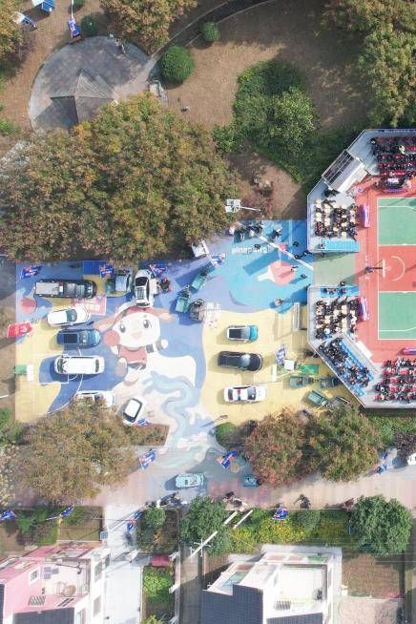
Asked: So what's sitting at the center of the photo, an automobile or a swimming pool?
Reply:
automobile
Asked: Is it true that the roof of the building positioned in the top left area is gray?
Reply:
Yes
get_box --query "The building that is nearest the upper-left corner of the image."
[37,58,111,127]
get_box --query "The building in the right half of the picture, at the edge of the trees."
[204,542,334,624]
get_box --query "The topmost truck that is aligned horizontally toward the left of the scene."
[33,278,98,301]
